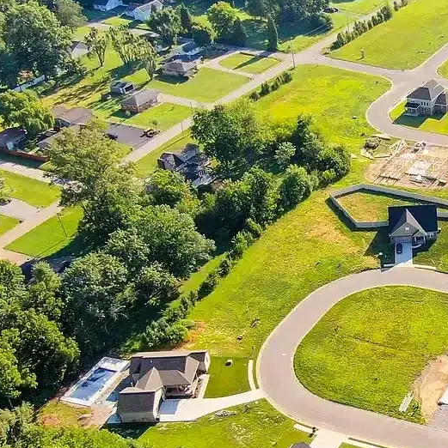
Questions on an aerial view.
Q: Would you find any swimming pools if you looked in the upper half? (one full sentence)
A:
No, there's no swimming pool to be seen in the upper half.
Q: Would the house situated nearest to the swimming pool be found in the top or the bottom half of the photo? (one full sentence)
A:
Seen from above, the house situated nearest to the swimming pool lies in the bottom half of the view.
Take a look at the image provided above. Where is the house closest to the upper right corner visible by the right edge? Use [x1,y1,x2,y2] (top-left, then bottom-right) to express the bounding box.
[401,79,448,117]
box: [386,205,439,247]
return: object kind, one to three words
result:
house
